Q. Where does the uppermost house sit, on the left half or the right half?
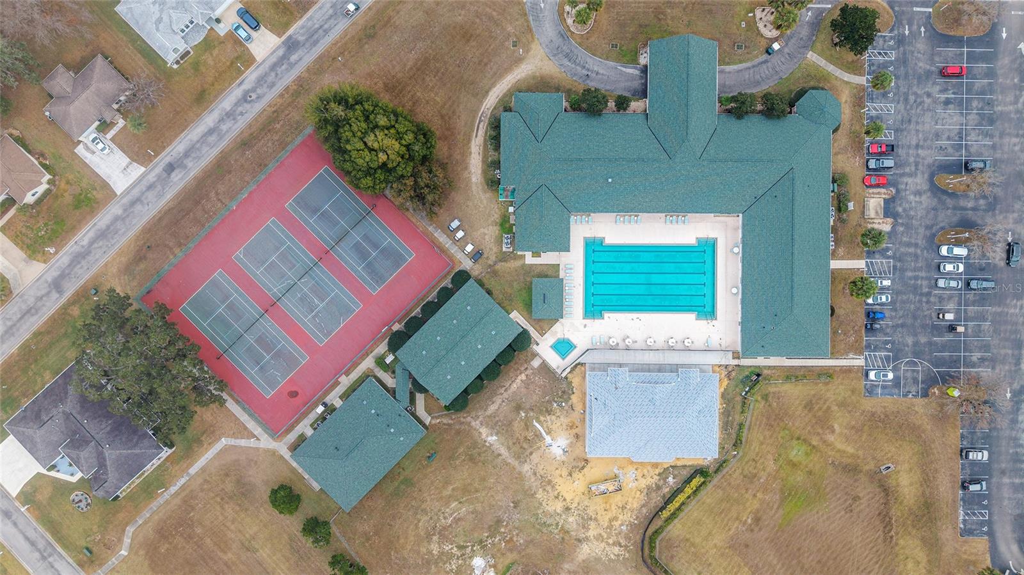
left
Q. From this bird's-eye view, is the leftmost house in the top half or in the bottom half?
top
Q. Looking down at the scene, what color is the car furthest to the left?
white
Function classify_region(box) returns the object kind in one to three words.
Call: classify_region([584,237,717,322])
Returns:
swimming pool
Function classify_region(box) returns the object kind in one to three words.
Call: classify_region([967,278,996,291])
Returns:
vehicle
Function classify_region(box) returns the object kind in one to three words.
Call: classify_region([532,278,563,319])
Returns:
building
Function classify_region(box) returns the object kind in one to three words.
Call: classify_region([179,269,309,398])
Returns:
tennis court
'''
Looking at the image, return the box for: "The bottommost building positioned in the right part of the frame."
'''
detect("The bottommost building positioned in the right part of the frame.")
[586,368,719,461]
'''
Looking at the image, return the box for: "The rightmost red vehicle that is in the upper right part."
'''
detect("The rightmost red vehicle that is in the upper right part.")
[940,64,966,77]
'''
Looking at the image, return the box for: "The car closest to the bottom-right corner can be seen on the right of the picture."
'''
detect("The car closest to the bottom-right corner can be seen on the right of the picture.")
[961,480,986,492]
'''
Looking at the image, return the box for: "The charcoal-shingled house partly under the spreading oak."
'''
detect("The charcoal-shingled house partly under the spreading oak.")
[3,362,167,502]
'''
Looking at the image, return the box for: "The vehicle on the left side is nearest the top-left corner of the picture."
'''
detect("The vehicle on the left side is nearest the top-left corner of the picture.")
[88,132,112,155]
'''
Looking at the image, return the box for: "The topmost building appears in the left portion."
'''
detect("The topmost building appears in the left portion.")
[114,0,239,68]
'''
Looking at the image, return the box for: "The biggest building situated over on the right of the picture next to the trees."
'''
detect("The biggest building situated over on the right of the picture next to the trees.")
[500,34,842,358]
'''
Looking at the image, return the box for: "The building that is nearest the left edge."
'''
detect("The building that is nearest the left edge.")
[0,126,56,205]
